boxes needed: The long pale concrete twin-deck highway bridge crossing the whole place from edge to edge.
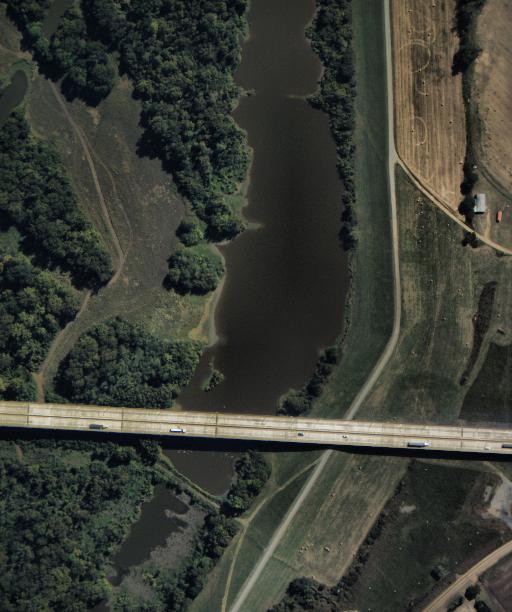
[0,401,512,454]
